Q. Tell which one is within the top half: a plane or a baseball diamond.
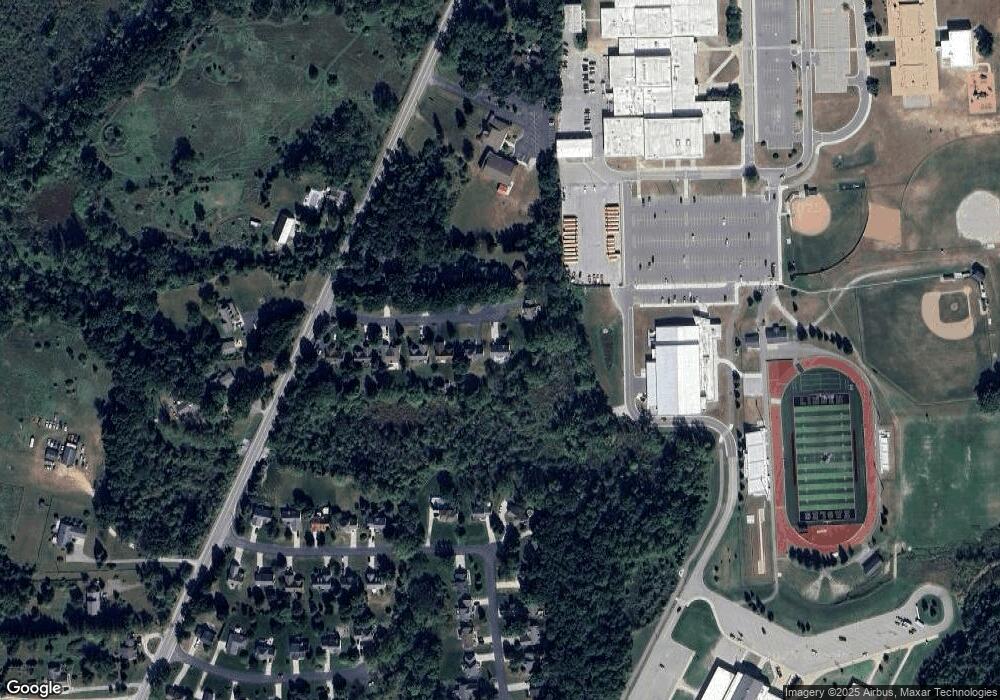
baseball diamond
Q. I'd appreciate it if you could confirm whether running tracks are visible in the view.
Yes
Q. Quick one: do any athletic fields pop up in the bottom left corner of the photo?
No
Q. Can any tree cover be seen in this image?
Yes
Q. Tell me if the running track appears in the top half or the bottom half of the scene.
bottom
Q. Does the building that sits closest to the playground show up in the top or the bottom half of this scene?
top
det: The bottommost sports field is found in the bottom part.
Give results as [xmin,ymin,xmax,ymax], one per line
[781,368,867,525]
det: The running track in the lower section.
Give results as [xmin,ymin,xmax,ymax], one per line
[768,353,881,558]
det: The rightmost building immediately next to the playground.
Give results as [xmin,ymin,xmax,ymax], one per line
[941,28,976,67]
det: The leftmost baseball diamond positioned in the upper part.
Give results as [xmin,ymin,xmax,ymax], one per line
[790,192,831,235]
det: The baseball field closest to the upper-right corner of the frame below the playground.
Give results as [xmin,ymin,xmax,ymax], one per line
[957,190,1000,244]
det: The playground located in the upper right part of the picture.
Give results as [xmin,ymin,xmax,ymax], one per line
[968,62,995,113]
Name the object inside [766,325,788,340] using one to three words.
building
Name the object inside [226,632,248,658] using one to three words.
house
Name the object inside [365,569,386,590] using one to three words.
house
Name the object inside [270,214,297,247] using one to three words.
barn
